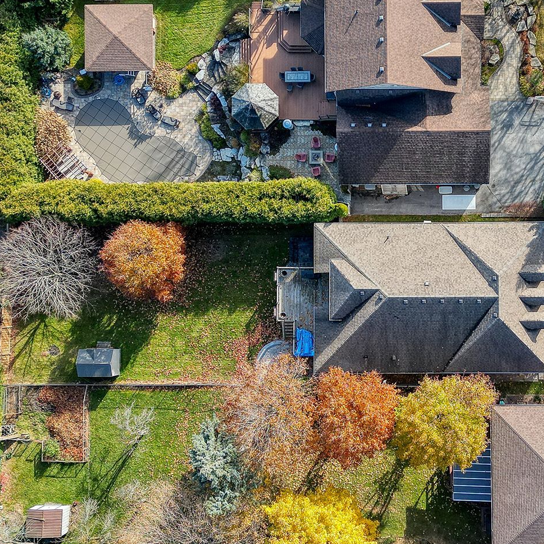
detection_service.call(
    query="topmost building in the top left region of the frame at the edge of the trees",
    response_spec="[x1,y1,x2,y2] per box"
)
[83,3,164,78]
